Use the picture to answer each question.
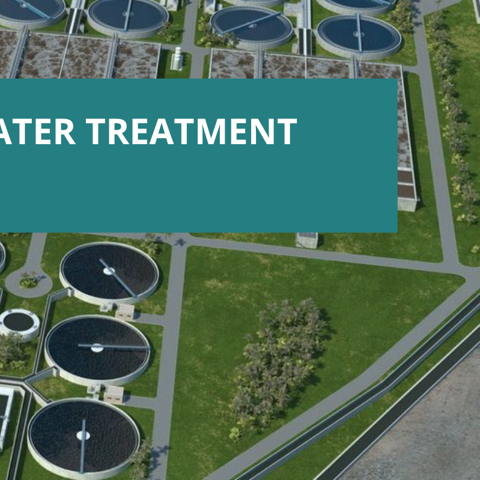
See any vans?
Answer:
No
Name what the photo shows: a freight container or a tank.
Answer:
tank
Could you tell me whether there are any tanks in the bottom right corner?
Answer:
No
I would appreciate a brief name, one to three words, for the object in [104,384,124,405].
shed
